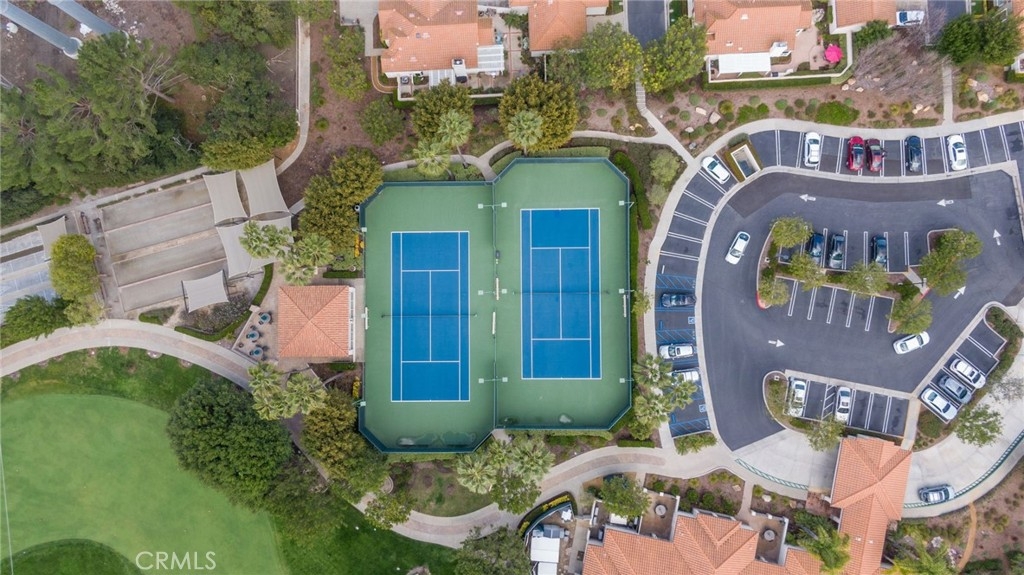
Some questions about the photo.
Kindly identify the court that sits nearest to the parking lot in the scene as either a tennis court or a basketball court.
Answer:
tennis court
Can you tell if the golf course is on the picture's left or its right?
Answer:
left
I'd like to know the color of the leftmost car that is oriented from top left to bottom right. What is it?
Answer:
white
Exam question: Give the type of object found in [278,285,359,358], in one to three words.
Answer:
building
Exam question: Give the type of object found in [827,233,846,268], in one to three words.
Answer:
car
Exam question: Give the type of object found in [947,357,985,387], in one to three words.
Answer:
car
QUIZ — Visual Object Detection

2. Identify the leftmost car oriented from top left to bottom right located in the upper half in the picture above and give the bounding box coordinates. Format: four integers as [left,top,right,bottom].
[699,156,731,185]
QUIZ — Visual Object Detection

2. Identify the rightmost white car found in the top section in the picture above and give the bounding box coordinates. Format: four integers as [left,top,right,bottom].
[945,135,965,171]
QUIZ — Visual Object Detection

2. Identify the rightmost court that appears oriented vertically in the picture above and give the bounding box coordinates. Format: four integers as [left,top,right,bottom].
[494,163,627,427]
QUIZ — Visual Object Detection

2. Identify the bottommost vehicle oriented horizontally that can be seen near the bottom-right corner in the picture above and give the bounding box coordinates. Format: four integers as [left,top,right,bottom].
[916,485,954,502]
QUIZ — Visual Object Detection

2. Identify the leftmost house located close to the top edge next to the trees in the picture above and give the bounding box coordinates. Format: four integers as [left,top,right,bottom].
[378,0,505,89]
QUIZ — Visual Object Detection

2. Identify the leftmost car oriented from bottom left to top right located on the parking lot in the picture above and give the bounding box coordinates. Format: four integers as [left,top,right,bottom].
[723,230,751,265]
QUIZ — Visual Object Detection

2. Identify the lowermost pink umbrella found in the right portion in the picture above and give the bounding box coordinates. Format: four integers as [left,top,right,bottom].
[824,45,841,62]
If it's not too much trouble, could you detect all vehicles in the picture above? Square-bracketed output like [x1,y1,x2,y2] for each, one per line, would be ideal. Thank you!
[846,137,865,172]
[802,132,821,167]
[903,136,922,172]
[891,332,929,355]
[660,291,695,307]
[916,485,954,502]
[699,156,731,185]
[827,233,846,268]
[665,368,702,384]
[723,230,751,265]
[659,344,694,360]
[788,379,805,415]
[947,357,985,387]
[865,139,887,172]
[833,386,851,422]
[870,235,890,266]
[945,135,965,171]
[896,8,932,27]
[805,232,823,266]
[936,374,973,402]
[919,389,955,419]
